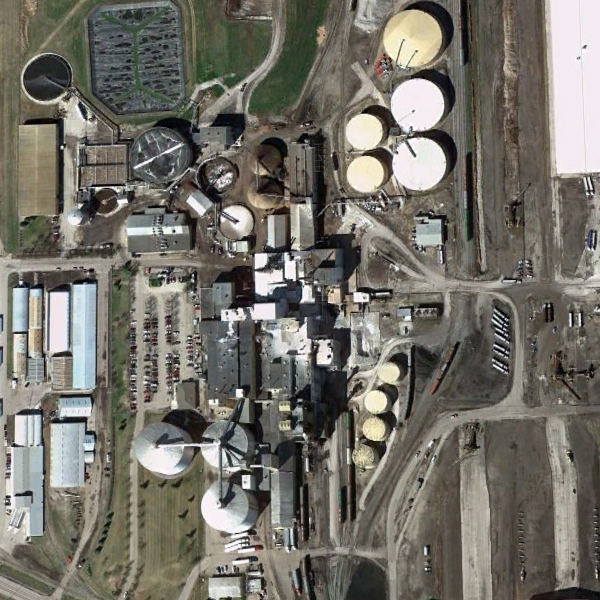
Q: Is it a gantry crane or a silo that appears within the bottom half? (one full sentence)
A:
Visible within the bottom half is a silo.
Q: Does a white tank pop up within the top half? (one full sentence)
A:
Yes, you'll find a white tank within the top half.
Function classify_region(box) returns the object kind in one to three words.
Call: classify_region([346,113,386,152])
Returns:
storage tank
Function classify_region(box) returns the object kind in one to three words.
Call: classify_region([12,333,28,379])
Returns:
shed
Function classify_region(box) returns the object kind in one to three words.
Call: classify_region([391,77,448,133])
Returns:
storage tank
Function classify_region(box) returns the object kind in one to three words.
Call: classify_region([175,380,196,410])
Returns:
building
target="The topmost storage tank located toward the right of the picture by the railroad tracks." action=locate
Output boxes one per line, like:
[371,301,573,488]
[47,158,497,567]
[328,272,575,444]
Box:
[384,8,445,69]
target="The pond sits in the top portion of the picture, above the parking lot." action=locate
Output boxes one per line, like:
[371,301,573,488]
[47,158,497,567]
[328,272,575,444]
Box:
[87,0,188,115]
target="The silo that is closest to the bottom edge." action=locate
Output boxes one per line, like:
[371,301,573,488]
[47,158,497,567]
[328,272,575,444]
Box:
[201,480,257,533]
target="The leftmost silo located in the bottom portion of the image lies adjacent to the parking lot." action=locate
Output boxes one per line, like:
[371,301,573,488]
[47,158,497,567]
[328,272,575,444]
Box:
[135,421,193,475]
